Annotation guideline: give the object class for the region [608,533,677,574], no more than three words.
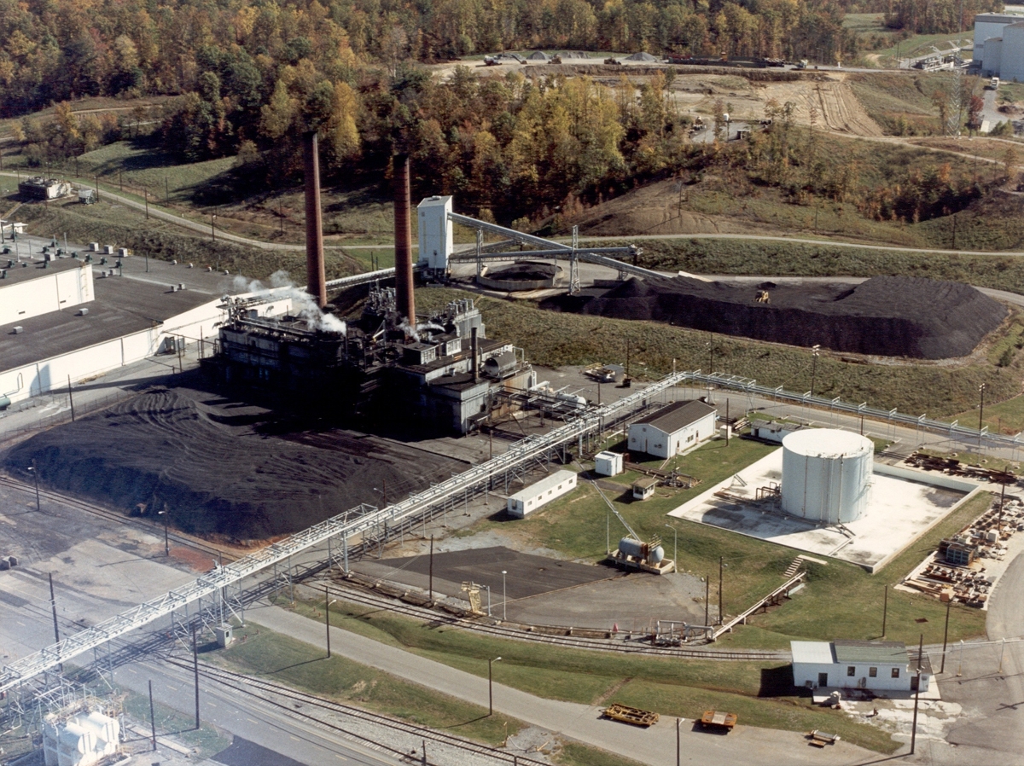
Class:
storage tank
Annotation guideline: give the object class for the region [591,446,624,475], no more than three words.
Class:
shed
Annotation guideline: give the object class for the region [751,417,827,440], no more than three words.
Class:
shed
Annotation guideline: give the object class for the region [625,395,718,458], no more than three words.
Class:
building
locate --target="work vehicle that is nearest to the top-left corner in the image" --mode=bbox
[481,49,526,64]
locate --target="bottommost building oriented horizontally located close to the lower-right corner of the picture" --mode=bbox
[786,634,940,692]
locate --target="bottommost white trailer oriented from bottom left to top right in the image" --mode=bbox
[518,467,580,517]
